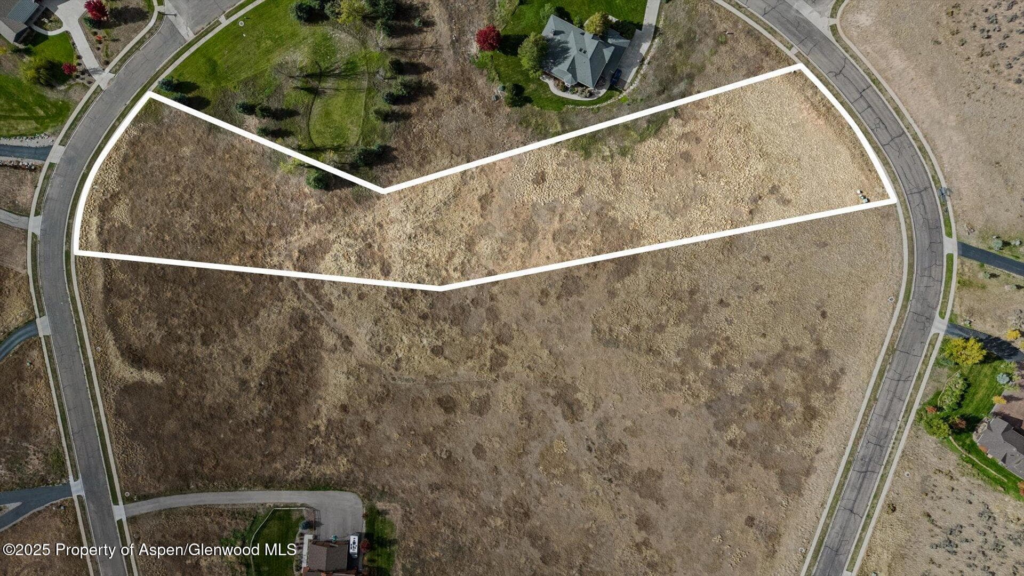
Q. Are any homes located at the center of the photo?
No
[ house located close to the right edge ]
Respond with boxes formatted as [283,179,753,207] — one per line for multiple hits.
[971,417,1024,480]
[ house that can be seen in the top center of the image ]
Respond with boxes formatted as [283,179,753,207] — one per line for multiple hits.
[529,16,630,91]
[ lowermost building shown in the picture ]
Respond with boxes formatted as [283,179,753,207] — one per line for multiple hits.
[304,537,359,576]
